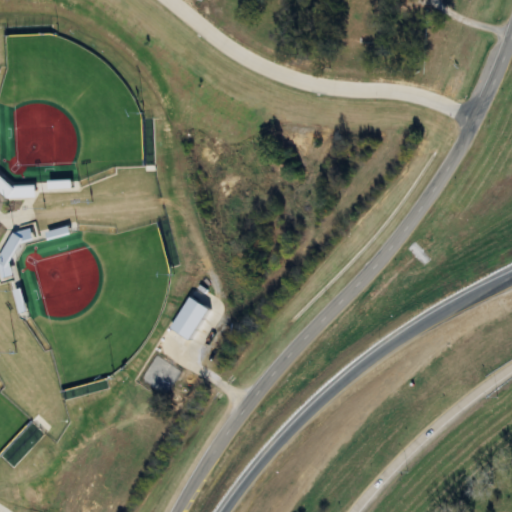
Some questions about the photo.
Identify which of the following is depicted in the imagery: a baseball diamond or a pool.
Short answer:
baseball diamond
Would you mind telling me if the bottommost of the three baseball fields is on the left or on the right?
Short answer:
left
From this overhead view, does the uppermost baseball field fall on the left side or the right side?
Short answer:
left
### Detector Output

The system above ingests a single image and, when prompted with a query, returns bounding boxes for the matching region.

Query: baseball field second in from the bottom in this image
[18,224,172,390]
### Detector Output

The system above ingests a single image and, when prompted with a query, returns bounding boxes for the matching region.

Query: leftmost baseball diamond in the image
[0,390,30,452]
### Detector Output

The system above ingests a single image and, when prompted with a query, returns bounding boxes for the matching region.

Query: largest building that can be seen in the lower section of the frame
[170,297,210,340]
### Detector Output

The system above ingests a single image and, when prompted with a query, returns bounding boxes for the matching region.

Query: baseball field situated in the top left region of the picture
[0,35,146,186]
